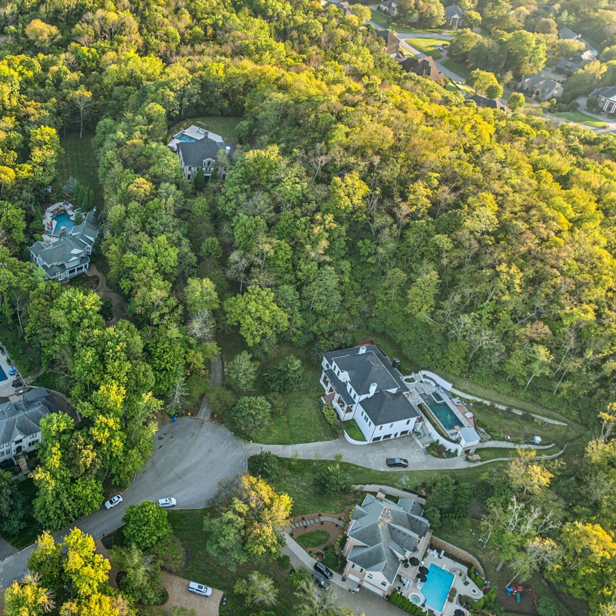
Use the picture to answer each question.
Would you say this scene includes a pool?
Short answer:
Yes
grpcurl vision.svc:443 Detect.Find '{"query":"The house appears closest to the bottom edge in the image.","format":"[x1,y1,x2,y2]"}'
[340,486,430,606]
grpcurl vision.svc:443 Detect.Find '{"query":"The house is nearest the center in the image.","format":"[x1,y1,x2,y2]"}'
[321,344,422,445]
